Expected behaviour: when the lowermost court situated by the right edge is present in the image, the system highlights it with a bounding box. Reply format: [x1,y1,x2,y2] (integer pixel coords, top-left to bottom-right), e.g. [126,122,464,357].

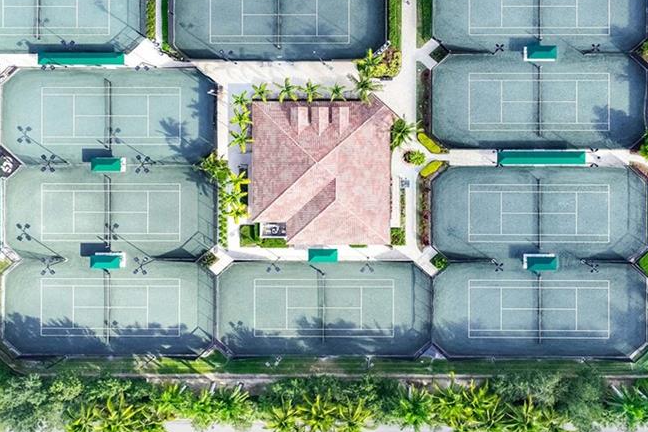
[434,261,647,359]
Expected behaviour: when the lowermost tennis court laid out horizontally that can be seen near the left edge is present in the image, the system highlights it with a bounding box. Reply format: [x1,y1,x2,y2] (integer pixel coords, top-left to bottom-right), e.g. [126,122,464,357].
[3,259,217,356]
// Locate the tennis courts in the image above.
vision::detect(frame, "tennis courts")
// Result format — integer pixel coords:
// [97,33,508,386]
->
[2,68,214,164]
[434,261,647,359]
[3,259,217,356]
[435,166,647,261]
[435,53,647,148]
[0,0,145,52]
[218,261,432,358]
[174,0,385,59]
[434,0,647,53]
[4,164,215,259]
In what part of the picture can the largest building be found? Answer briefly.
center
